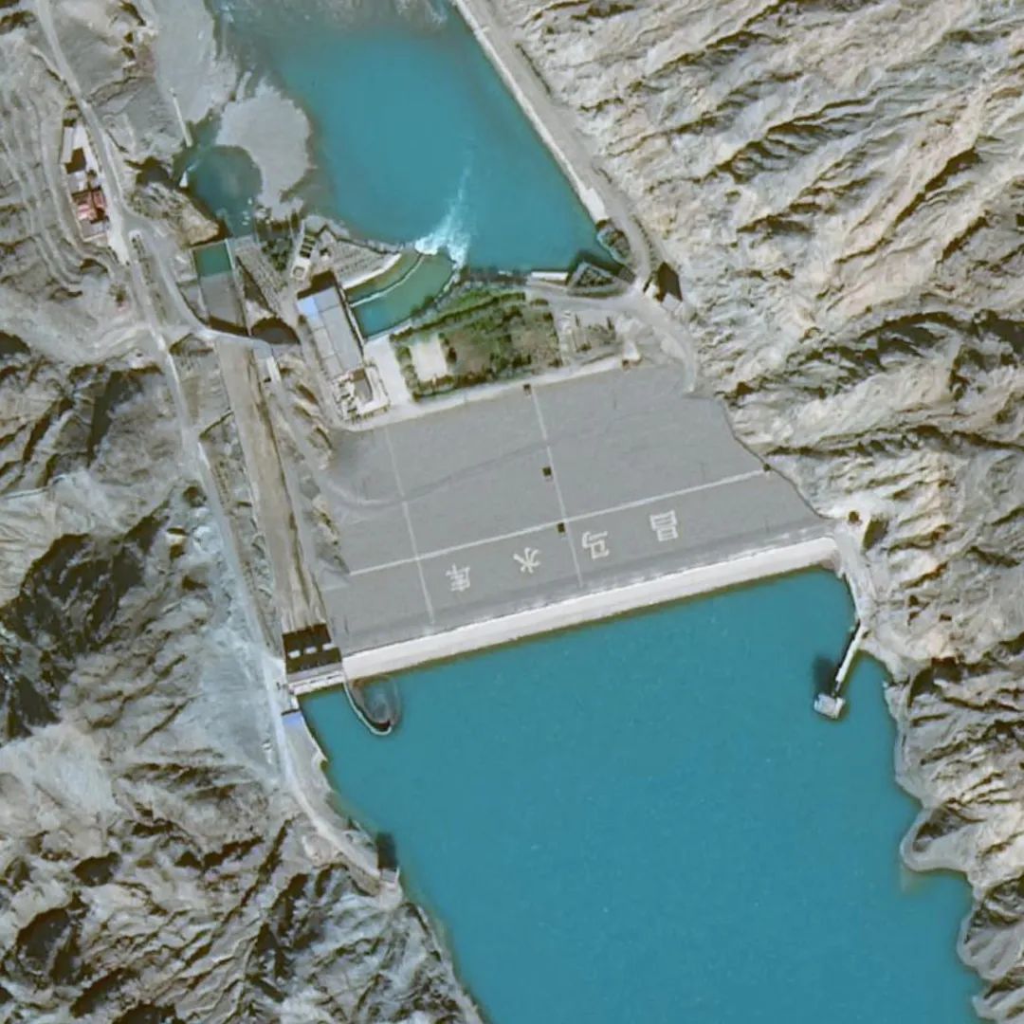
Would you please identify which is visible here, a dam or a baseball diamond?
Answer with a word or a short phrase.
dam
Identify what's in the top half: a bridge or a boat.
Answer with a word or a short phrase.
bridge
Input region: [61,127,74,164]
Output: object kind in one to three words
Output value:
house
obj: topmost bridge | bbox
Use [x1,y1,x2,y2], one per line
[187,320,274,358]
